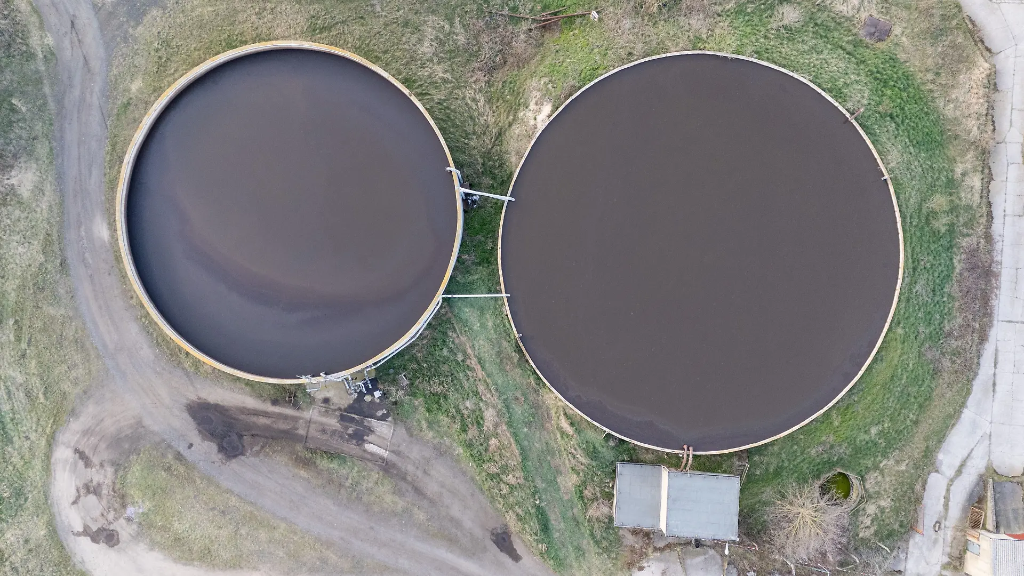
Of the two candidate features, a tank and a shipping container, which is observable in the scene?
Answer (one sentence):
The image shows a tank.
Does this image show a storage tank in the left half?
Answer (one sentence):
Yes, the scene does show a storage tank in the left half.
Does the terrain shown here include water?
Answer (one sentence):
Yes, water shows up in the scene.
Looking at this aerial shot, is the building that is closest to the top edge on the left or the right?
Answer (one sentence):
The building that is closest to the top edge appears in the right half of the scene.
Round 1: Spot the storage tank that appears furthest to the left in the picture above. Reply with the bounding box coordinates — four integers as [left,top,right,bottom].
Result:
[117,40,464,384]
